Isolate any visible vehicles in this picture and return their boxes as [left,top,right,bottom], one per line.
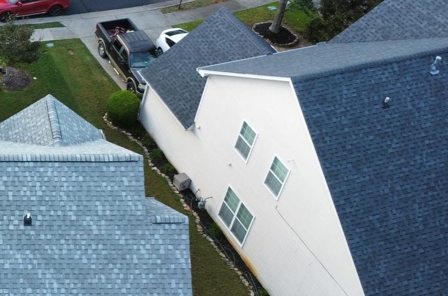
[162,24,197,52]
[0,0,74,23]
[94,28,160,100]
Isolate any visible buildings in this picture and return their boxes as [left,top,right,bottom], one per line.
[0,90,192,296]
[140,0,448,296]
